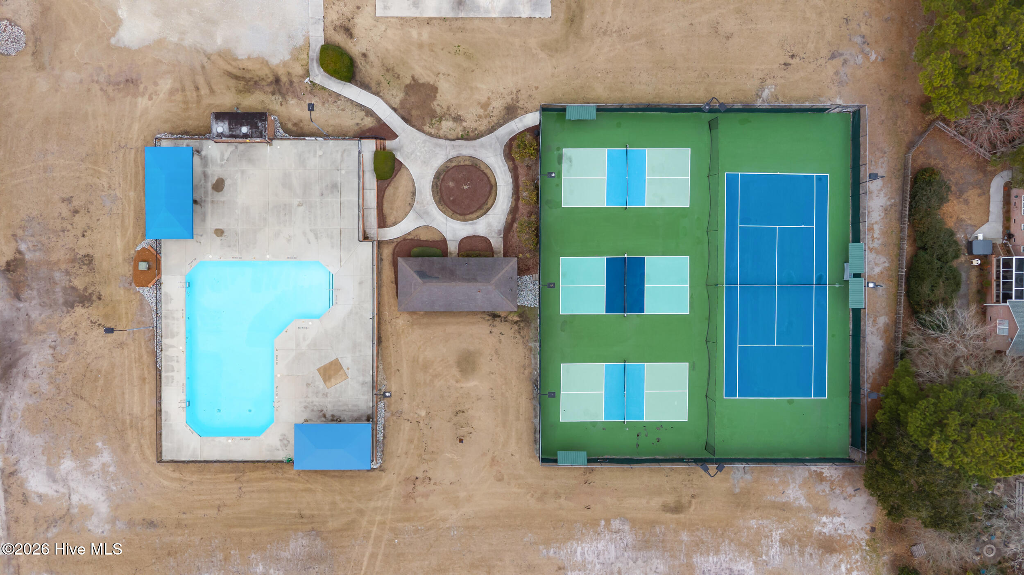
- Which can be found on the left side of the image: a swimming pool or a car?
swimming pool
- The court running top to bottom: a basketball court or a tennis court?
tennis court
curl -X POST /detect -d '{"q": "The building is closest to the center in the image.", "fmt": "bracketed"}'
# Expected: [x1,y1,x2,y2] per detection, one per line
[397,257,518,312]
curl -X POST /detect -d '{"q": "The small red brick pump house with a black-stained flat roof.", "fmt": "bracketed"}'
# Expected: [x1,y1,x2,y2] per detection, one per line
[211,107,277,143]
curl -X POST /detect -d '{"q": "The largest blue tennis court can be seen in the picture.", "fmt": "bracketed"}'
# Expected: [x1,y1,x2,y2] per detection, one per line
[724,172,829,400]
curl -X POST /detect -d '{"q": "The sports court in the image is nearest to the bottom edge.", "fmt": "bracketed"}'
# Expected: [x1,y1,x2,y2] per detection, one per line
[560,363,689,422]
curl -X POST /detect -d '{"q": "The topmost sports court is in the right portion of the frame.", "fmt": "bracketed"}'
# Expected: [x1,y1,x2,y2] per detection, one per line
[562,148,691,207]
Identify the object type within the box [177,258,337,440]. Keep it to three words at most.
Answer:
swimming pool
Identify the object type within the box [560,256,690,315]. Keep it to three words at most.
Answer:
sports court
